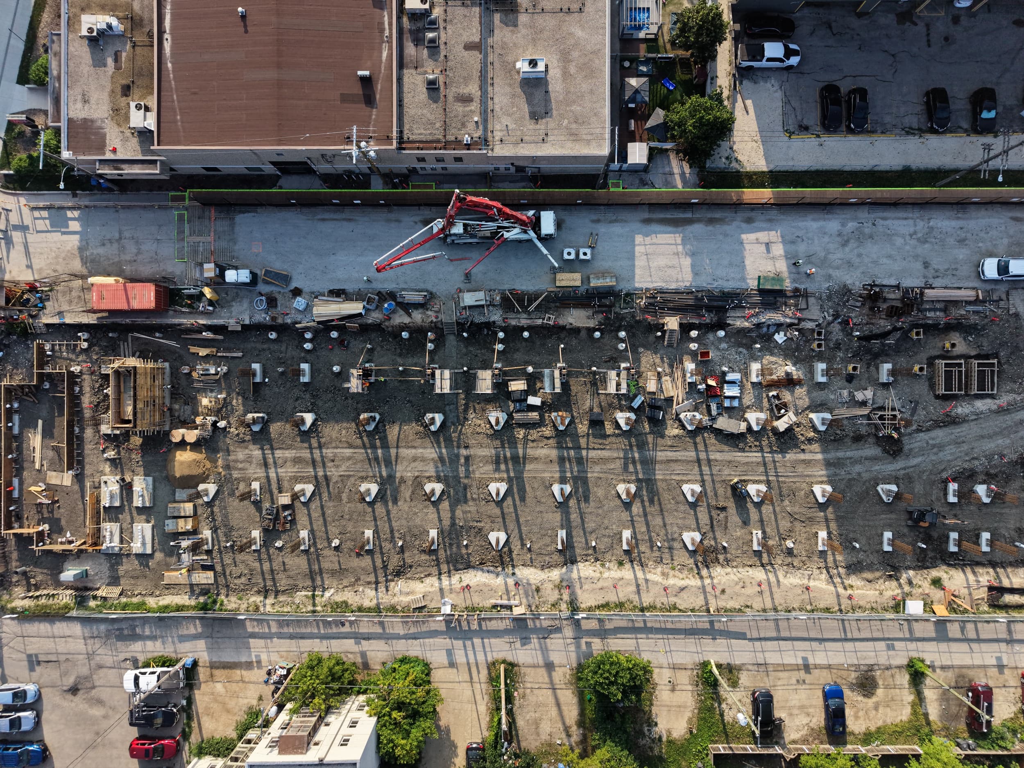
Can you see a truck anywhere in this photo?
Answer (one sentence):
Yes, looking at the shot, I can spot a truck.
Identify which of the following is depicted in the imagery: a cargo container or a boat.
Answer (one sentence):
Visible in the photo is a cargo container.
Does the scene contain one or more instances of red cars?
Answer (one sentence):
Yes, the image includes a red car.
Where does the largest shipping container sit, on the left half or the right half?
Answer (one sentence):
The largest shipping container is on the left side of the image.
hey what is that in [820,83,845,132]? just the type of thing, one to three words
car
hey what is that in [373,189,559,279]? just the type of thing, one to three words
truck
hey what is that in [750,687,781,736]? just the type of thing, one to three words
car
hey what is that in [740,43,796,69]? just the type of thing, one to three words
truck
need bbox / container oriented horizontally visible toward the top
[92,283,168,312]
